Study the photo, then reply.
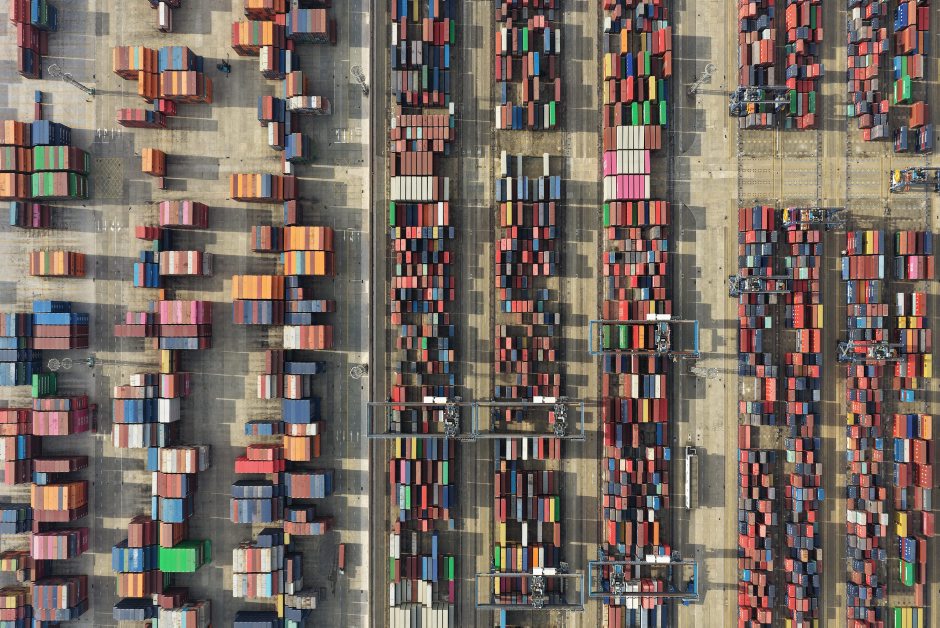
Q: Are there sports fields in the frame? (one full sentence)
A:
No, there isn't any sports field down there.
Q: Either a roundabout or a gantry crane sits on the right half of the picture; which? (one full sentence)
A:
The feature located on the right half of the picture is a gantry crane.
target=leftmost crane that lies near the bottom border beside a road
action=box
[476,556,585,614]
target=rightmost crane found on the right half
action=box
[890,165,940,197]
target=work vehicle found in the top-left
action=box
[214,54,229,77]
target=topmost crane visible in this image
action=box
[730,83,794,121]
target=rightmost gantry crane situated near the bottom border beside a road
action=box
[588,545,699,602]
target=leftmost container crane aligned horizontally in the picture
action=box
[367,395,476,443]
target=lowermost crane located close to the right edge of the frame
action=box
[837,338,908,364]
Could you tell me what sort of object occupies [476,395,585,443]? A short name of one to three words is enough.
container crane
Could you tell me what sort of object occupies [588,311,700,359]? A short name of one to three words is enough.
container crane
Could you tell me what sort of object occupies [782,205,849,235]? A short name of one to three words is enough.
crane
